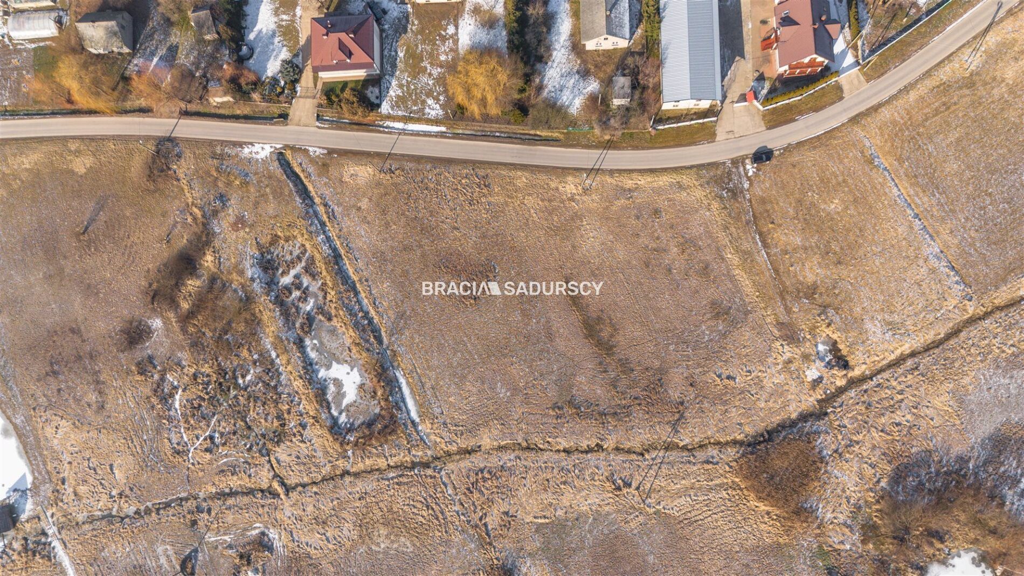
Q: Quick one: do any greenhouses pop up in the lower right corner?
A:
No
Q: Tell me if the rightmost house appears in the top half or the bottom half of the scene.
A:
top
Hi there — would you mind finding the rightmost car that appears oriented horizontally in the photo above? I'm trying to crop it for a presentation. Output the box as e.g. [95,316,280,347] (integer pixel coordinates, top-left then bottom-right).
[752,150,775,163]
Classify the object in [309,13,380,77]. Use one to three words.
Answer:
house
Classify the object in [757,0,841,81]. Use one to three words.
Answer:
house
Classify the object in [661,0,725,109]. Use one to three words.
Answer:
barn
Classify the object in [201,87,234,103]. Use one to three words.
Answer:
shed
